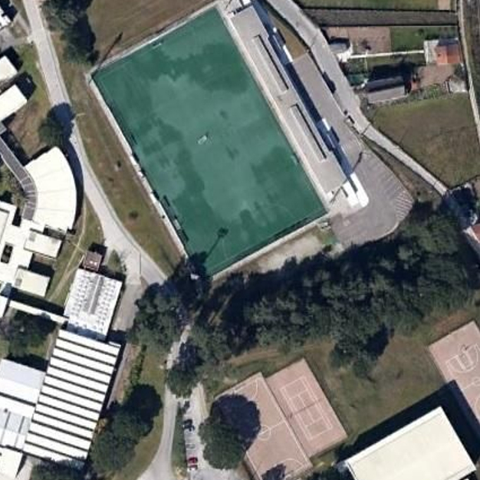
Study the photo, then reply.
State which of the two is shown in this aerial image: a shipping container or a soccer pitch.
soccer pitch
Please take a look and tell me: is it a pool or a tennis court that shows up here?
tennis court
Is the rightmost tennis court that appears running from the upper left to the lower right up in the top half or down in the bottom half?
bottom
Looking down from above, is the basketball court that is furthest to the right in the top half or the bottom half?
bottom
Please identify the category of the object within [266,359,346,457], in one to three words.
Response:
tennis court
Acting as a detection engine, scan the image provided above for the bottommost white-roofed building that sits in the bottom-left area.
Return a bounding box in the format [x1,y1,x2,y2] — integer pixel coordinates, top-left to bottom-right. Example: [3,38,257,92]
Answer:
[0,268,122,479]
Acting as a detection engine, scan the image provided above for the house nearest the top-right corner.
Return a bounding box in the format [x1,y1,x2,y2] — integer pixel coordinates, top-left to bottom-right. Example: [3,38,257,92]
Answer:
[435,44,461,65]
